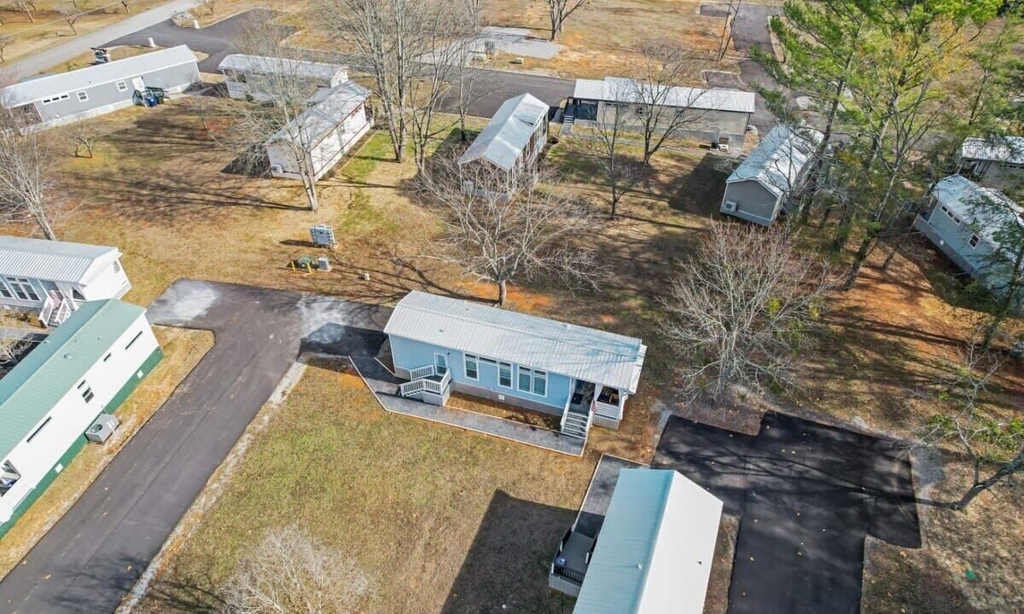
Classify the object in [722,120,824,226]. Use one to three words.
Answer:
house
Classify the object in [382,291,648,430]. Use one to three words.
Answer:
house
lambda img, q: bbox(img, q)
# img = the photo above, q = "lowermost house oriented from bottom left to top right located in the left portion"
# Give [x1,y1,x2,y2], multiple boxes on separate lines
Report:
[0,297,161,541]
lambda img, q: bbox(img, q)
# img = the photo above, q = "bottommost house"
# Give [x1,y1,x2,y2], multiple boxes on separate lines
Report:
[572,467,723,614]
